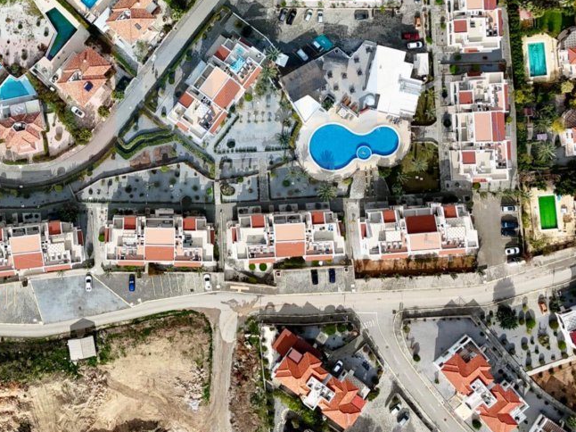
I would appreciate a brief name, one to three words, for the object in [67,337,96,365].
shed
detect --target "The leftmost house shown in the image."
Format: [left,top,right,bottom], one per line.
[0,110,43,154]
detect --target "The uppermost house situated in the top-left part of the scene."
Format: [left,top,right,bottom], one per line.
[105,0,161,46]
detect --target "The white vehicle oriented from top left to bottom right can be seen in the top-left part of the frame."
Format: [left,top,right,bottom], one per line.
[70,106,86,118]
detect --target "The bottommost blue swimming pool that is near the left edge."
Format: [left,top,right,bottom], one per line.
[0,73,41,104]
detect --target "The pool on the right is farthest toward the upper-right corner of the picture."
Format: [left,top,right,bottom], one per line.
[523,34,557,82]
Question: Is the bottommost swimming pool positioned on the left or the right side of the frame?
right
